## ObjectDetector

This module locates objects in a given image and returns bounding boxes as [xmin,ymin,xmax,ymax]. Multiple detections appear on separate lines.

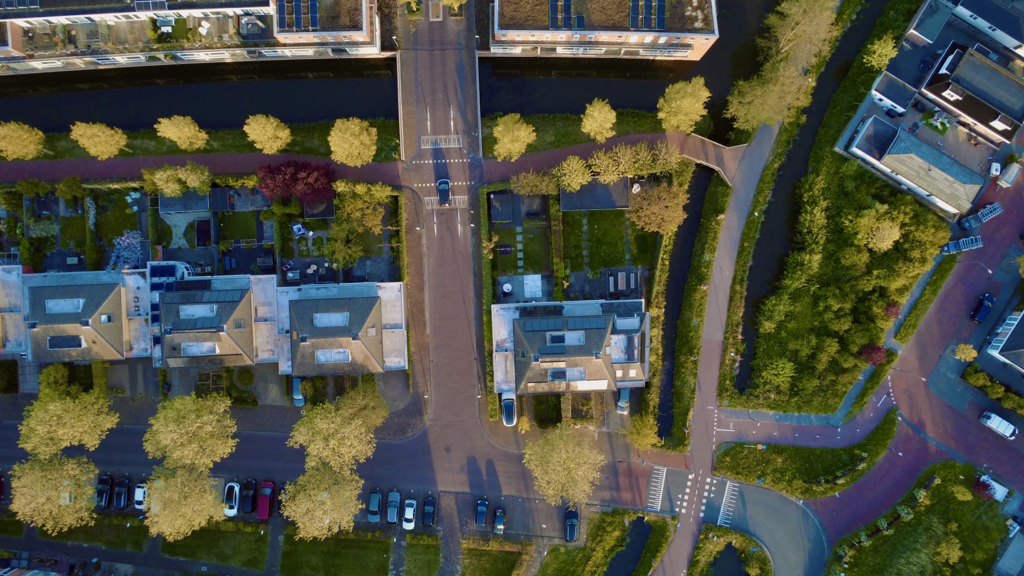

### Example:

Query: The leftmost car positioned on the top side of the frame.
[436,177,451,208]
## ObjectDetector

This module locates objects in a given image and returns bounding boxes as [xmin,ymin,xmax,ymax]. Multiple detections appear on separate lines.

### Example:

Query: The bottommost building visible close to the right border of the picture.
[984,296,1024,378]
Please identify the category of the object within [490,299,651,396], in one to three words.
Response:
house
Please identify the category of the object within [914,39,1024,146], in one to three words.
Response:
house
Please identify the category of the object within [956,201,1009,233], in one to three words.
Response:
truck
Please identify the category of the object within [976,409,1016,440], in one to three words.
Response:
van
